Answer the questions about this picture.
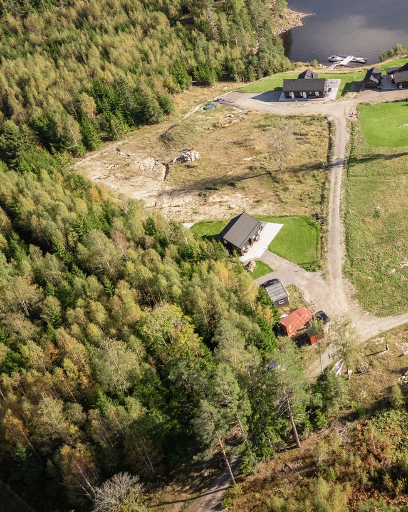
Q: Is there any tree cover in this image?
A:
Yes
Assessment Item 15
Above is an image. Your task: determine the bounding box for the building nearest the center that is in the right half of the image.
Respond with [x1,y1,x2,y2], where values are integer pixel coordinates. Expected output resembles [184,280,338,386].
[207,211,283,263]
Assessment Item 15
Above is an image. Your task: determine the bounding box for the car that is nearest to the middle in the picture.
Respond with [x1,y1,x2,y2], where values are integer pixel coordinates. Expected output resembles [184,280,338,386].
[260,275,282,288]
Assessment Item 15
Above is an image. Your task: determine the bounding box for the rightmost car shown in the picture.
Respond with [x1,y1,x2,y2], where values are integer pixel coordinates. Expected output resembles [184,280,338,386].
[315,306,328,324]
